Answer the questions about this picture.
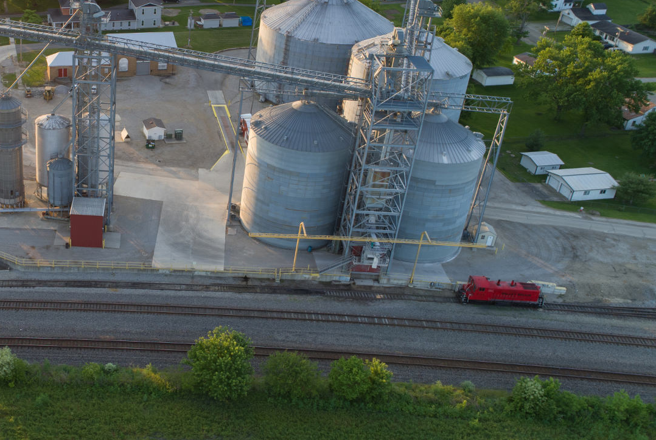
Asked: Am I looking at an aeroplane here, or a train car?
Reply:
train car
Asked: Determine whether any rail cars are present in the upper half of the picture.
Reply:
No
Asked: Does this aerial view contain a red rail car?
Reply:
Yes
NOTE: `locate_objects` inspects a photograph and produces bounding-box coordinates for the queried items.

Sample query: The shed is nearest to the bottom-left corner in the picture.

[68,194,106,247]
